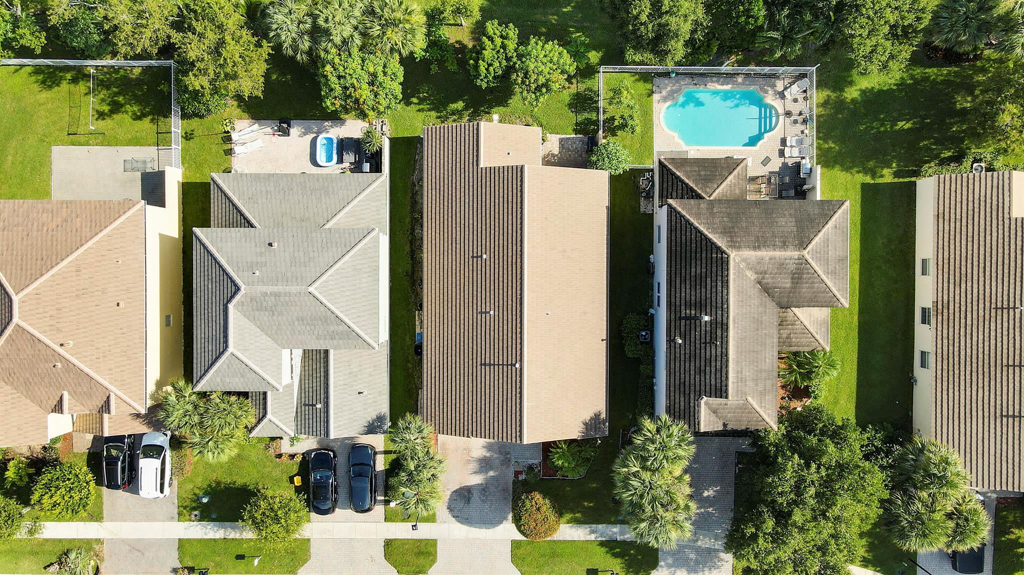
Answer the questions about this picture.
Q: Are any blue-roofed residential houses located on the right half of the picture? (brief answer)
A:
No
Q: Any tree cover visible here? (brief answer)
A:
Yes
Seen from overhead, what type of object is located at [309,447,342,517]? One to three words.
car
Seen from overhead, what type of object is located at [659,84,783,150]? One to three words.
swimming pool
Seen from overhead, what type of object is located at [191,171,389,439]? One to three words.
house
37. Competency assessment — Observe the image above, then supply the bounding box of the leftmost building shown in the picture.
[0,199,182,447]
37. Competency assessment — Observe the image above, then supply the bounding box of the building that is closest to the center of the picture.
[423,122,611,444]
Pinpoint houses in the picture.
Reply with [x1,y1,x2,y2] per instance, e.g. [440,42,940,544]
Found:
[191,171,389,439]
[423,122,611,444]
[652,149,851,435]
[0,199,182,447]
[915,172,1024,490]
